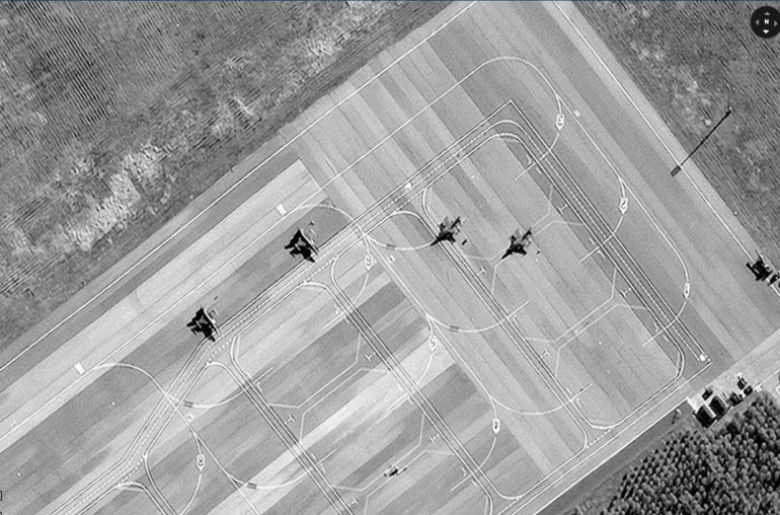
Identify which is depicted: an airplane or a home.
airplane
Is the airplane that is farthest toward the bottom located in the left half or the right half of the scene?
left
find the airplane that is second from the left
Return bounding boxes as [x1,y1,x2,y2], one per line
[292,226,319,256]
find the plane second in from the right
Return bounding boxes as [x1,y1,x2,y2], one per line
[503,224,535,251]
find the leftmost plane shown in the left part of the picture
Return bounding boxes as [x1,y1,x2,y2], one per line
[193,303,220,334]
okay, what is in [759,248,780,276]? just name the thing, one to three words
airplane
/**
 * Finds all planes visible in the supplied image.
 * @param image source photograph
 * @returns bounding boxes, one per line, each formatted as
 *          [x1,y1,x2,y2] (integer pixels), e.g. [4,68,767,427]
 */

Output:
[759,248,780,276]
[503,224,535,251]
[436,213,468,239]
[193,303,220,334]
[292,226,319,256]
